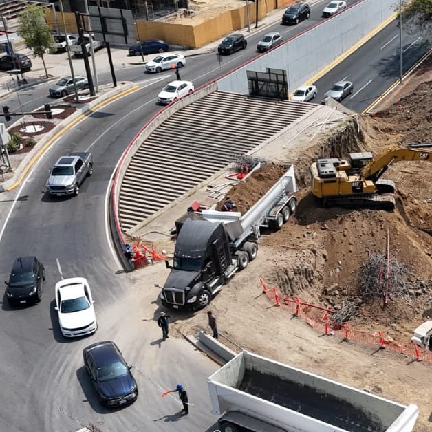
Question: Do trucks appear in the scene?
Yes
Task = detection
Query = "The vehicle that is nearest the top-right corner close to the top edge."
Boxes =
[325,2,351,18]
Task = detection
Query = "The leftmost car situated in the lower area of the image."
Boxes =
[6,253,55,303]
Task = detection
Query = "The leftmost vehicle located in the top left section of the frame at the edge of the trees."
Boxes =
[0,52,34,72]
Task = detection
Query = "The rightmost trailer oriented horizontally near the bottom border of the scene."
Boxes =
[205,347,416,432]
